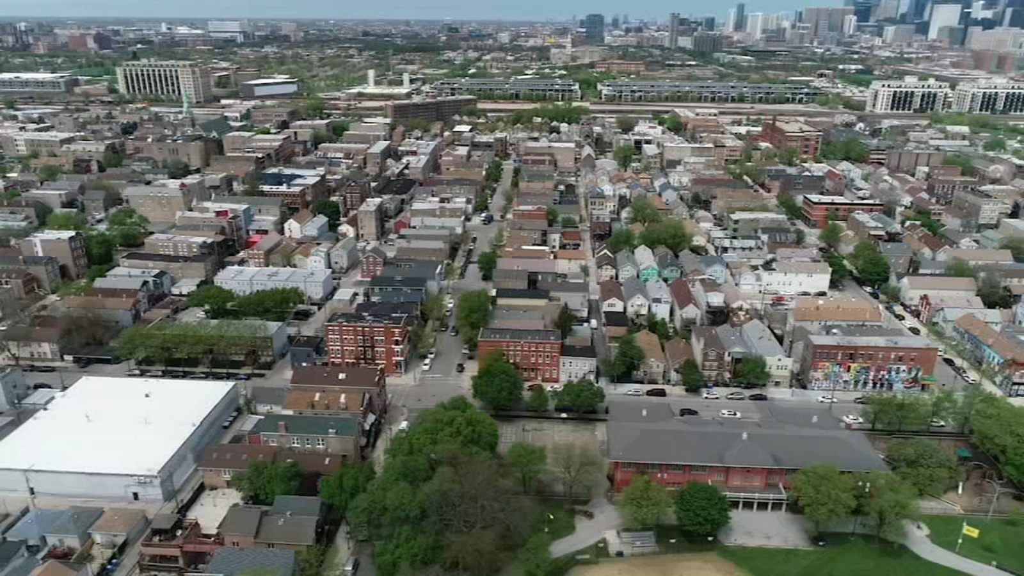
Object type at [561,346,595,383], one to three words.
building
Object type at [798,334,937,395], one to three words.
building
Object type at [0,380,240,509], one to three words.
warehouse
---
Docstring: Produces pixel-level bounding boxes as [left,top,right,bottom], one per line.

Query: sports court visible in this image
[494,422,607,500]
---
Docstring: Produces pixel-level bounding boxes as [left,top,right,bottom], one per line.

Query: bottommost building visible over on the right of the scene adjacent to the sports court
[605,398,884,517]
